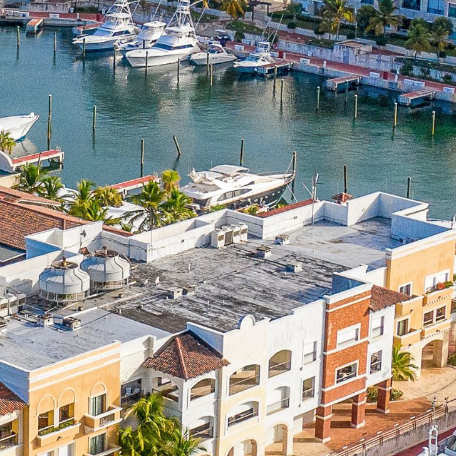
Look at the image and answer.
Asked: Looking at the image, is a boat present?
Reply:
Yes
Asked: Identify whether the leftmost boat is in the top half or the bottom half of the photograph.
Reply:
top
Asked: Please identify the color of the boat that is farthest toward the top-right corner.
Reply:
white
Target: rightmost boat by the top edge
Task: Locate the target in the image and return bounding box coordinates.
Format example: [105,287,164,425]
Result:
[227,12,297,75]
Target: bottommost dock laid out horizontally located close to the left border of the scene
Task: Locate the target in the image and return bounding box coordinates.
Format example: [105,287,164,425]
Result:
[0,143,66,172]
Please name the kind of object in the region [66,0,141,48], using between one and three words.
boat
